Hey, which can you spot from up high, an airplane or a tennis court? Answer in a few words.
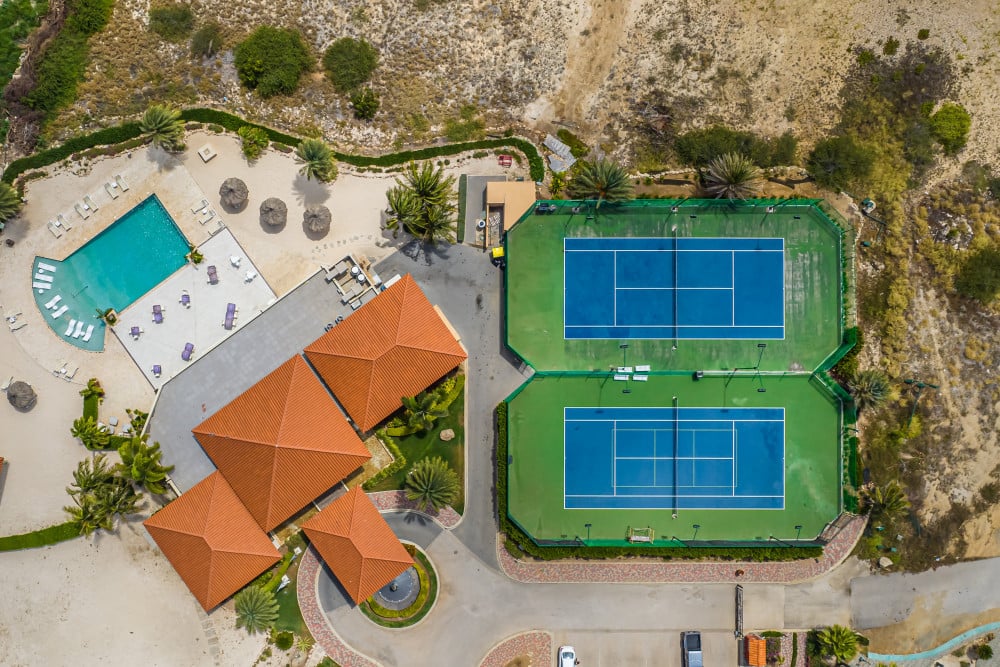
tennis court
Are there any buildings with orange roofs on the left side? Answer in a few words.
Yes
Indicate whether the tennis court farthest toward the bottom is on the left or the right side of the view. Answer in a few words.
right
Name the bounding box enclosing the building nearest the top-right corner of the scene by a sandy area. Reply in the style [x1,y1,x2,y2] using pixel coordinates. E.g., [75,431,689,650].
[485,181,536,236]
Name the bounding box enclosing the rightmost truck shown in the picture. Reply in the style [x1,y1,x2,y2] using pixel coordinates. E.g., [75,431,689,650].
[682,630,704,667]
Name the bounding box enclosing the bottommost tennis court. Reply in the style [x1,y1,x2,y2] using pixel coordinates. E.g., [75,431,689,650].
[511,373,841,540]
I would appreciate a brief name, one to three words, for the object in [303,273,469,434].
building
